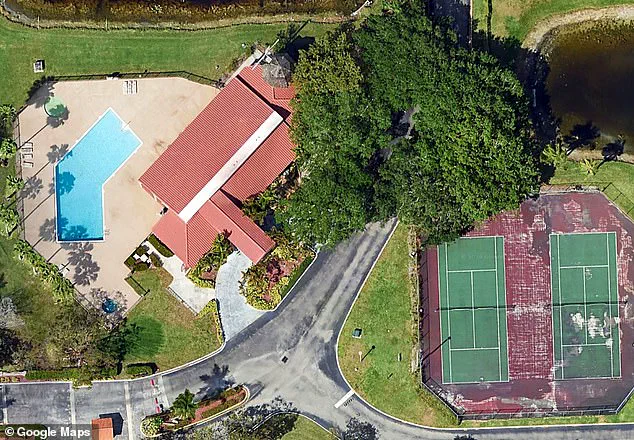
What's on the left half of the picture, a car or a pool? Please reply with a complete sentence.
Looking on the left half of the picture, you will find a pool.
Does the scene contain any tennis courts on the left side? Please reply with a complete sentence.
No, looking on the left side, there is no tennis court.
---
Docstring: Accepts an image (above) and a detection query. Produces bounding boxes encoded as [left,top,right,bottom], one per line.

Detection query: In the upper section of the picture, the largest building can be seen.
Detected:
[139,62,316,269]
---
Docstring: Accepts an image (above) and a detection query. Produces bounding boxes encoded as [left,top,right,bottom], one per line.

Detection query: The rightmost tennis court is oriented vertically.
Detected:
[550,232,620,379]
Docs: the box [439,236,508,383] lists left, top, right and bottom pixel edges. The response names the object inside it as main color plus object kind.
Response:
green tennis court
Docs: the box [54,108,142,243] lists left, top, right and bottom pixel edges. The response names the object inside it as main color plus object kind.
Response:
blue swimming pool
